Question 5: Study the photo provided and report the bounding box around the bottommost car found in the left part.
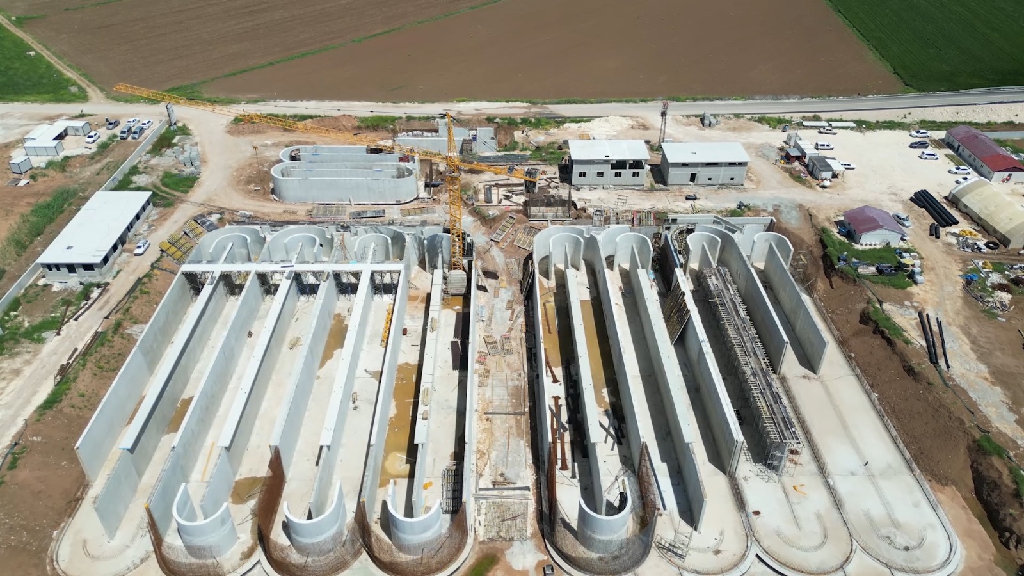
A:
[127,236,154,253]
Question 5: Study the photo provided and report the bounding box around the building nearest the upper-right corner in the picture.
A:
[944,119,1024,182]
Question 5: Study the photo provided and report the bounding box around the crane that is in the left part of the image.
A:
[116,85,541,303]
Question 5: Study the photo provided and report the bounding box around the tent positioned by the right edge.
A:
[949,172,1024,248]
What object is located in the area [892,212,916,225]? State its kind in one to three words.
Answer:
vehicle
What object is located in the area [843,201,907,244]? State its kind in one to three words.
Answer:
house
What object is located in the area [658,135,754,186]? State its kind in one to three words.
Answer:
building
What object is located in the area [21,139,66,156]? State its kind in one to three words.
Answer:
building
